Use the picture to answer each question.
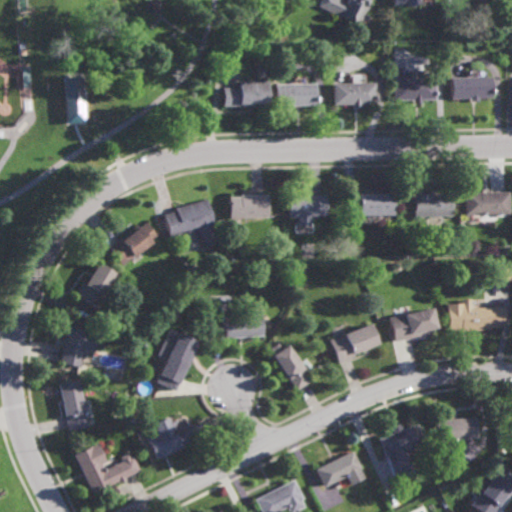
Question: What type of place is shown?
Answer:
residential area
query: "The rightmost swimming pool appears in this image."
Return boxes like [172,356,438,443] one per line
[136,382,152,396]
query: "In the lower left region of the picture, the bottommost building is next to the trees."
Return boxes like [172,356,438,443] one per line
[75,446,140,492]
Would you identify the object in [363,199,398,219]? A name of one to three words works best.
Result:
house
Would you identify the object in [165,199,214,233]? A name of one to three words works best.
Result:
house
